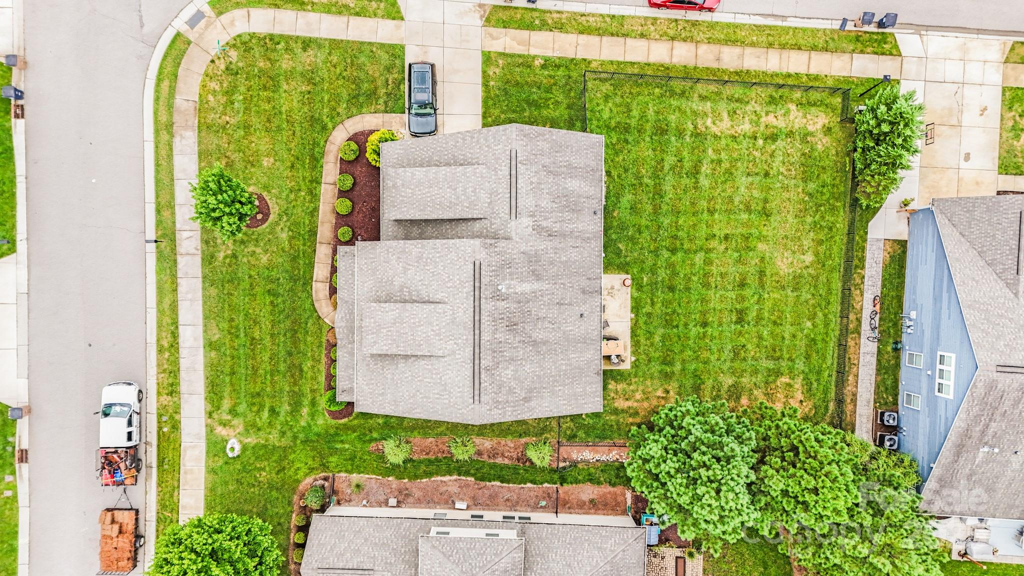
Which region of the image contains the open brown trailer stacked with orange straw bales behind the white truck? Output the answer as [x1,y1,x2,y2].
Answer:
[99,487,151,576]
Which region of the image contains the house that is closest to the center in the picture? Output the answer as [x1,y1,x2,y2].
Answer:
[333,124,605,424]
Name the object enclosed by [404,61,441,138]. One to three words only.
car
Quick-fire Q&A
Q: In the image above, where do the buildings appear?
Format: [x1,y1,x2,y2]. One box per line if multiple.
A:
[300,502,648,576]
[333,124,605,424]
[894,193,1024,522]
